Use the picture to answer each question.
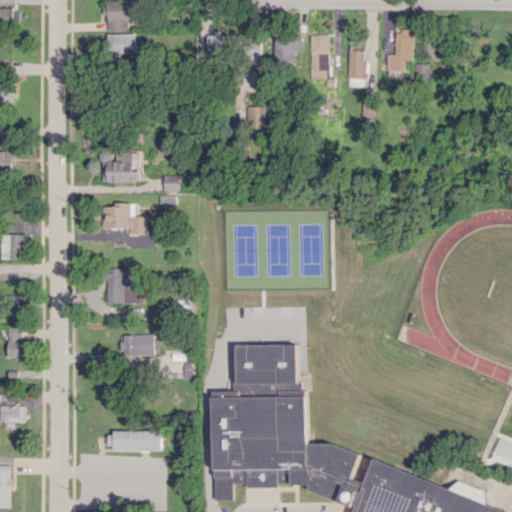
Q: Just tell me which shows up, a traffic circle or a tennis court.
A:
tennis court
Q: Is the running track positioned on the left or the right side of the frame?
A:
right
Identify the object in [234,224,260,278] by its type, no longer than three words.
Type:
tennis court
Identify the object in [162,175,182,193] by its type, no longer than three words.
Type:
building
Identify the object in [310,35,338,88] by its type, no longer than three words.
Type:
house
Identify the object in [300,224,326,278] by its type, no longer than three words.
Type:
tennis court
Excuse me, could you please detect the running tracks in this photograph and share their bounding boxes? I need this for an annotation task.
[398,209,512,385]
